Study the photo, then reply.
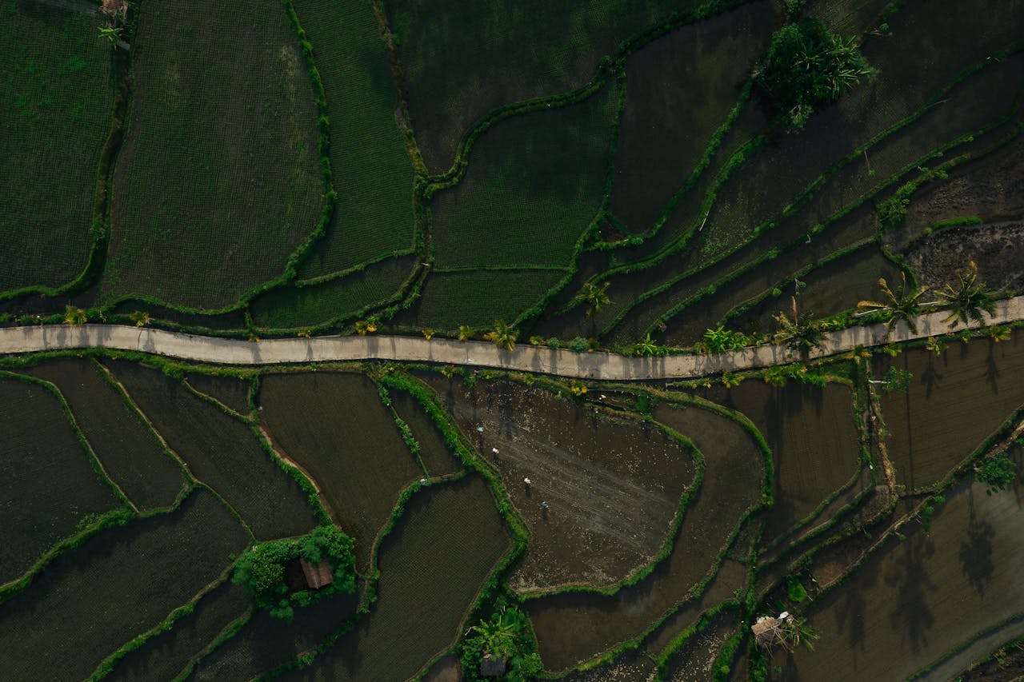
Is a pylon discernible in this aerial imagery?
No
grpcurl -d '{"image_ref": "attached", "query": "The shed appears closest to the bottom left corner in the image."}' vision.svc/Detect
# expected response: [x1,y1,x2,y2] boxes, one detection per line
[298,557,336,588]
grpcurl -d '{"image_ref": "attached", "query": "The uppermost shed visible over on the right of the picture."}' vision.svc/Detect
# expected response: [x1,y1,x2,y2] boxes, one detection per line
[746,615,781,650]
